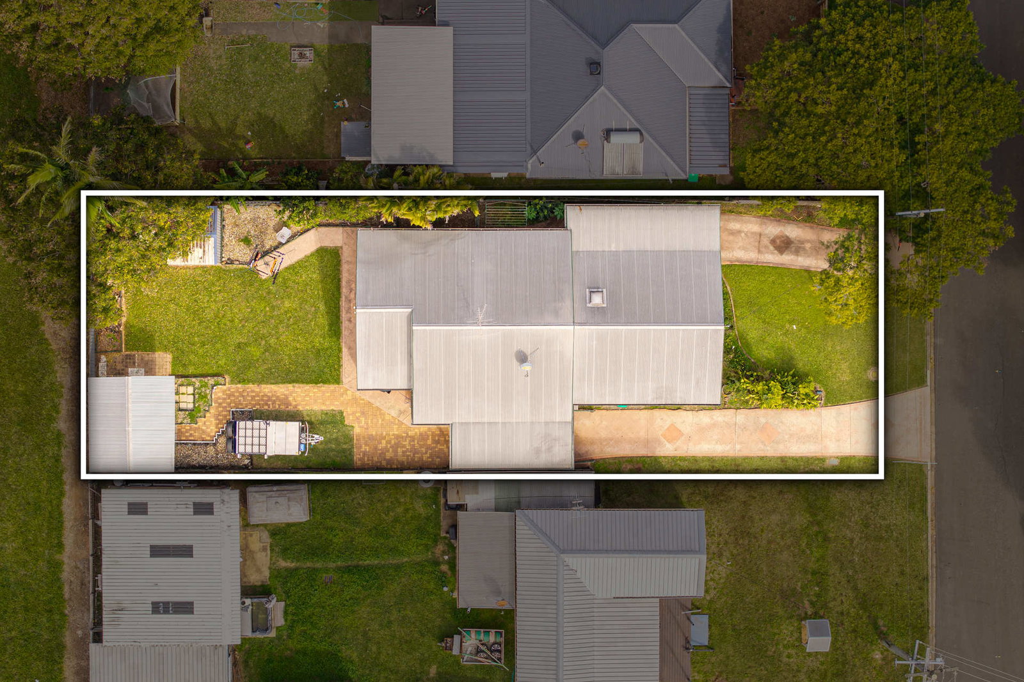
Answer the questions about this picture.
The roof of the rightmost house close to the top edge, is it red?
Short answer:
No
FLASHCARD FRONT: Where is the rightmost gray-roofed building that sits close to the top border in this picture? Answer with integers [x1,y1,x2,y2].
[370,0,735,179]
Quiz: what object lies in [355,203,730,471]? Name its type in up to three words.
house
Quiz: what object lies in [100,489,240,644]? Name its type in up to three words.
shed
